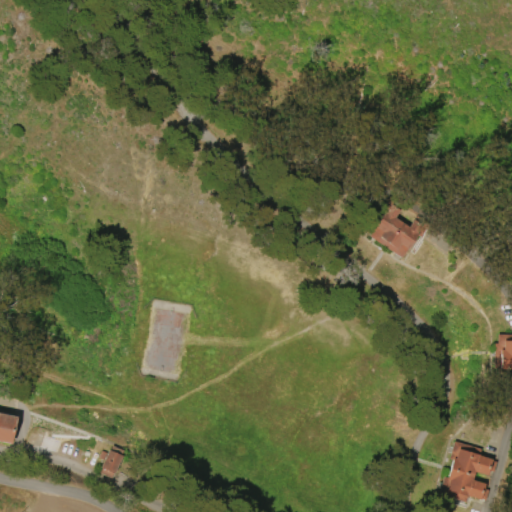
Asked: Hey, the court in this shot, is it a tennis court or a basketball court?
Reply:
basketball court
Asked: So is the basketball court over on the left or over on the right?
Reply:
left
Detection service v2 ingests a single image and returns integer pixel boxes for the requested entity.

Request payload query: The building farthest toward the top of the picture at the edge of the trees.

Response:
[372,206,428,258]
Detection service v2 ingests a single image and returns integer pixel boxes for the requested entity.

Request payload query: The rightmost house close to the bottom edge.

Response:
[442,440,500,504]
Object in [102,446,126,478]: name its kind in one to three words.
house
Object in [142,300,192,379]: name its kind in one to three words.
basketball court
